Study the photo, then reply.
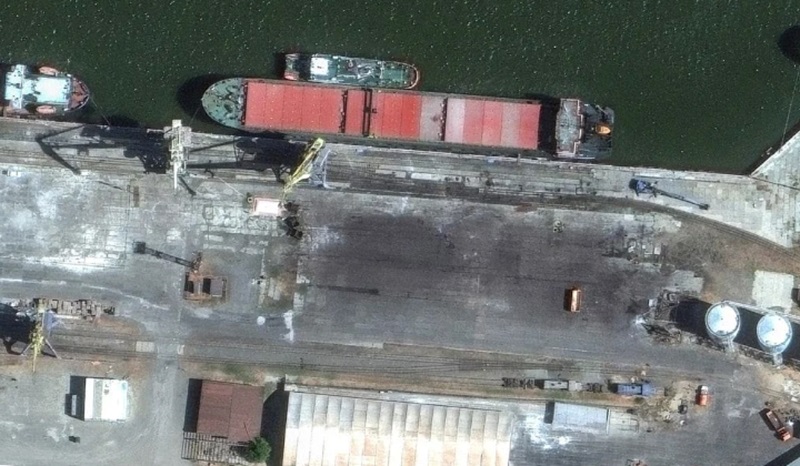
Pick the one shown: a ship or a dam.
ship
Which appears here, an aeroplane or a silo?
silo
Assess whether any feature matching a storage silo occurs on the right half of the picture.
Yes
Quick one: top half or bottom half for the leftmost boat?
top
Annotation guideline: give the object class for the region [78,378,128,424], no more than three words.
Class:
building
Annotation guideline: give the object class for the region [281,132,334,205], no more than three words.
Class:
crane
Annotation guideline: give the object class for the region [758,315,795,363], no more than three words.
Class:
silo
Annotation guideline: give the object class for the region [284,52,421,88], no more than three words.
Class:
vessel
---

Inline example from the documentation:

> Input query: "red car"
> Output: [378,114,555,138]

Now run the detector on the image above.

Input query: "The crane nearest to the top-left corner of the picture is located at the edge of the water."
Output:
[159,113,201,194]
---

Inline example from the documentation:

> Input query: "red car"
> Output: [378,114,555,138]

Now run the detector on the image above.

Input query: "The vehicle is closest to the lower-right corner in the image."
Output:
[766,409,793,442]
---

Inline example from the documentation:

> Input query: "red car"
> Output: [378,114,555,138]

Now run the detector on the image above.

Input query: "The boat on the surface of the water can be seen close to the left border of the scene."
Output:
[0,67,90,115]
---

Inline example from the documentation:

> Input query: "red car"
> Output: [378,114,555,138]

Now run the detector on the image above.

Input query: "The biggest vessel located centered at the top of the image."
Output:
[202,77,616,160]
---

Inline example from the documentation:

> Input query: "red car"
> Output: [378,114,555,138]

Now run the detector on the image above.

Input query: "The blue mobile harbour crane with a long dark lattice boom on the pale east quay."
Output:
[629,174,711,210]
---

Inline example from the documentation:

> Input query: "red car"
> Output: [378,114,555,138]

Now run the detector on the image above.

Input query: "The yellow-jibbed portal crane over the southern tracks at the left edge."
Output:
[17,301,66,383]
